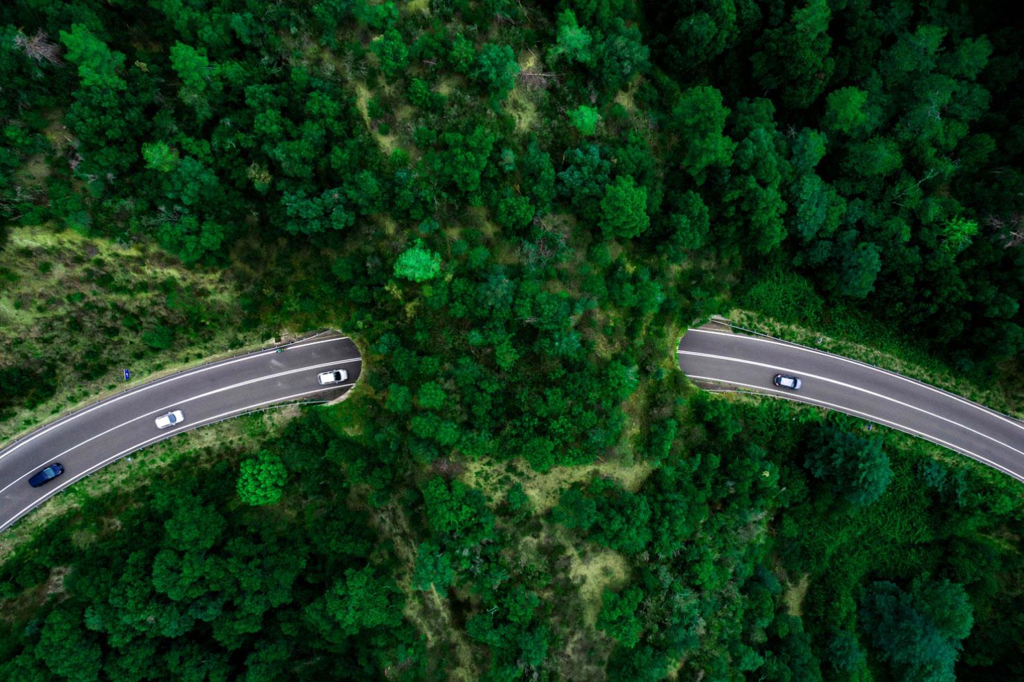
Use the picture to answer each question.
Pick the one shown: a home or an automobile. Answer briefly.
automobile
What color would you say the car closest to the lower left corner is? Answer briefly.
blue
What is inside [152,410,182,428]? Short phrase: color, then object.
white car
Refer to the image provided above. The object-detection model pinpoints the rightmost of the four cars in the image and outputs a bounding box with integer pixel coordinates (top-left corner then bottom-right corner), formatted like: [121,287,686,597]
[775,374,803,390]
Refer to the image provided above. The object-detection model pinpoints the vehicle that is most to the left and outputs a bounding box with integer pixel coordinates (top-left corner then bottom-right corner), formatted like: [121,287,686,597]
[27,464,61,488]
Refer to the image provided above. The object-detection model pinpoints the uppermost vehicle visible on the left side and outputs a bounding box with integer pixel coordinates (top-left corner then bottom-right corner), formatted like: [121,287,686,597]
[317,369,347,385]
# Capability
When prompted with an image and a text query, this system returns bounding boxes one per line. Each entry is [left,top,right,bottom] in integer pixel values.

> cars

[27,464,61,488]
[317,369,347,385]
[152,410,182,428]
[775,374,803,390]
